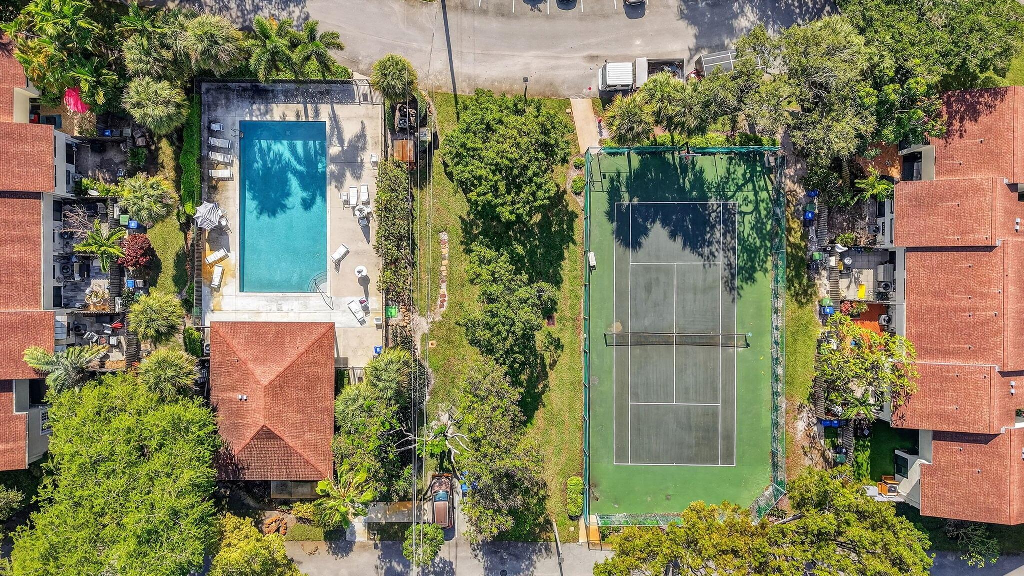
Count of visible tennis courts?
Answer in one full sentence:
I count just 1 tennis court.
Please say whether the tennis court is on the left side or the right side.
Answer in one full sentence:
The tennis court is on the right side of the image.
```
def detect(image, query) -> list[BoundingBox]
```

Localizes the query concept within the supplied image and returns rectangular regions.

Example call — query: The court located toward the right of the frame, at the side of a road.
[589,153,771,515]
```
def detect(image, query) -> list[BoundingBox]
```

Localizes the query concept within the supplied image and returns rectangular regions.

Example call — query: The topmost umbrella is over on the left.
[195,201,226,232]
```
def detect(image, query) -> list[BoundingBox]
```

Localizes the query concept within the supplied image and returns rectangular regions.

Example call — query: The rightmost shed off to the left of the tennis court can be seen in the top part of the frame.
[394,139,417,165]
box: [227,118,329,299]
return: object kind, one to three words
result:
swimming pool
